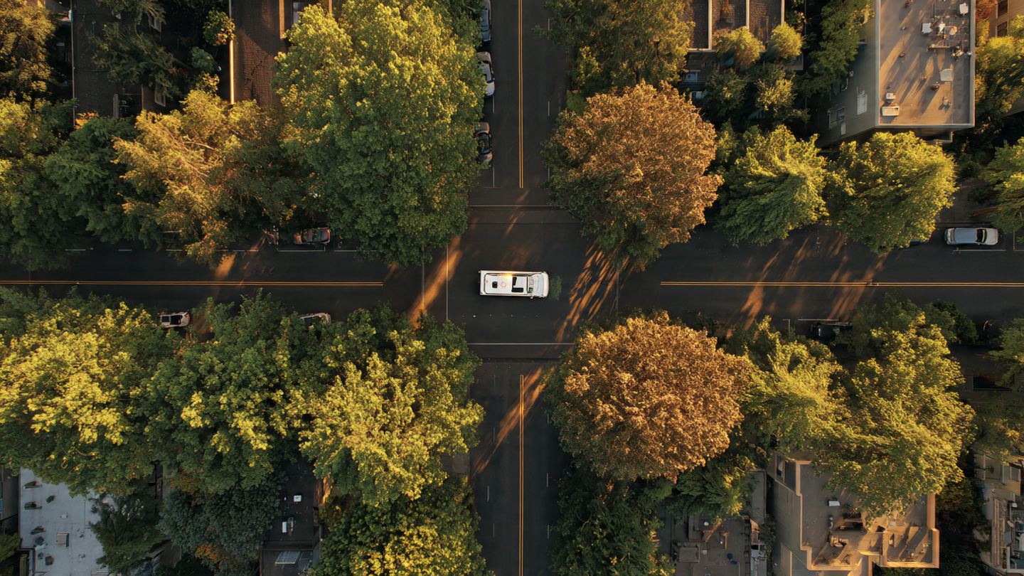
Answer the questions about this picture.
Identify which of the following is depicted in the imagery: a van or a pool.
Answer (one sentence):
It is a van that can be seen here.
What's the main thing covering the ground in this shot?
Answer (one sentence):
What you mostly see from above here is trees.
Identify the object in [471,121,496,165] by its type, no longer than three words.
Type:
car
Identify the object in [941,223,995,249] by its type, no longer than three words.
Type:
car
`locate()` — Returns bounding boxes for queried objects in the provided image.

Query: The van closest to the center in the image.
[479,268,548,299]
